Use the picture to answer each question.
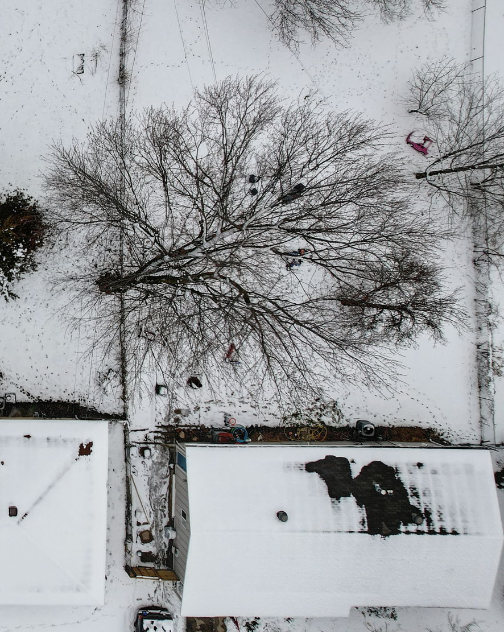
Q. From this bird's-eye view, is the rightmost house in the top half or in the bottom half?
bottom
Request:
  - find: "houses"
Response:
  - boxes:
[170,427,504,617]
[0,418,108,607]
